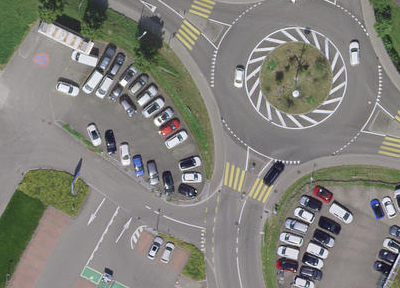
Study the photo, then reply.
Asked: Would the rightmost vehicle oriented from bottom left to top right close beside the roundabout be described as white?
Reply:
No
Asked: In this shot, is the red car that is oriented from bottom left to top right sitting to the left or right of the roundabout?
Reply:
left of it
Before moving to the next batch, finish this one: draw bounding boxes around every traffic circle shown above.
[210,0,382,164]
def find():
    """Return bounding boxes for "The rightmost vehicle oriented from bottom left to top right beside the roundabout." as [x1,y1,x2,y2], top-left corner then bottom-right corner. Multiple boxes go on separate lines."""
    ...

[262,160,284,188]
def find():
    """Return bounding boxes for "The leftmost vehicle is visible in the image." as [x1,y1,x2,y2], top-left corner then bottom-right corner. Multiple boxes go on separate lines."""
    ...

[56,81,80,96]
